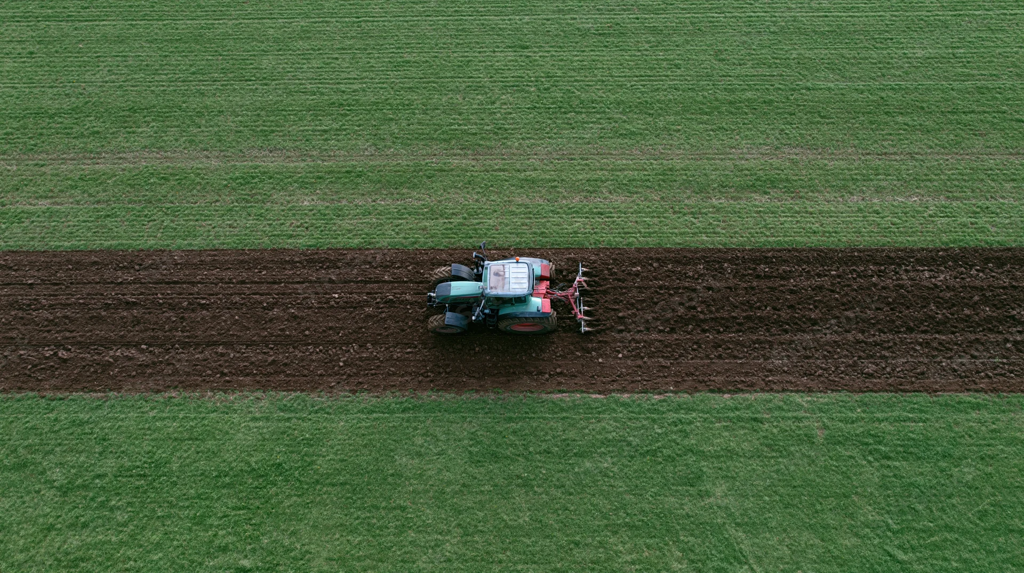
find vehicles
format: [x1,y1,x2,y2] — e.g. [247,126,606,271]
[427,240,556,335]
